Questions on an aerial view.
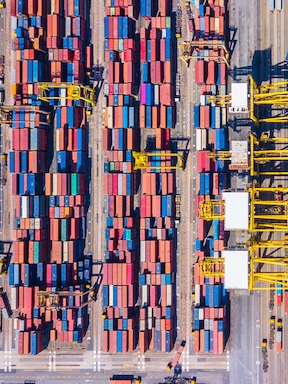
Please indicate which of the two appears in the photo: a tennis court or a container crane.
container crane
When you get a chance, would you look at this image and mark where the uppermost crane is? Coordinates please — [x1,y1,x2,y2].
[177,41,227,68]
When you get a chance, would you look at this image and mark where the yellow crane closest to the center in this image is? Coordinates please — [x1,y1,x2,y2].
[133,152,185,171]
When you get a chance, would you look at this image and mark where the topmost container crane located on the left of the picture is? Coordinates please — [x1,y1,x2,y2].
[36,81,94,105]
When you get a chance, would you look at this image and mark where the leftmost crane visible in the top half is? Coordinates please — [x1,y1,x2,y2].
[0,105,52,128]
